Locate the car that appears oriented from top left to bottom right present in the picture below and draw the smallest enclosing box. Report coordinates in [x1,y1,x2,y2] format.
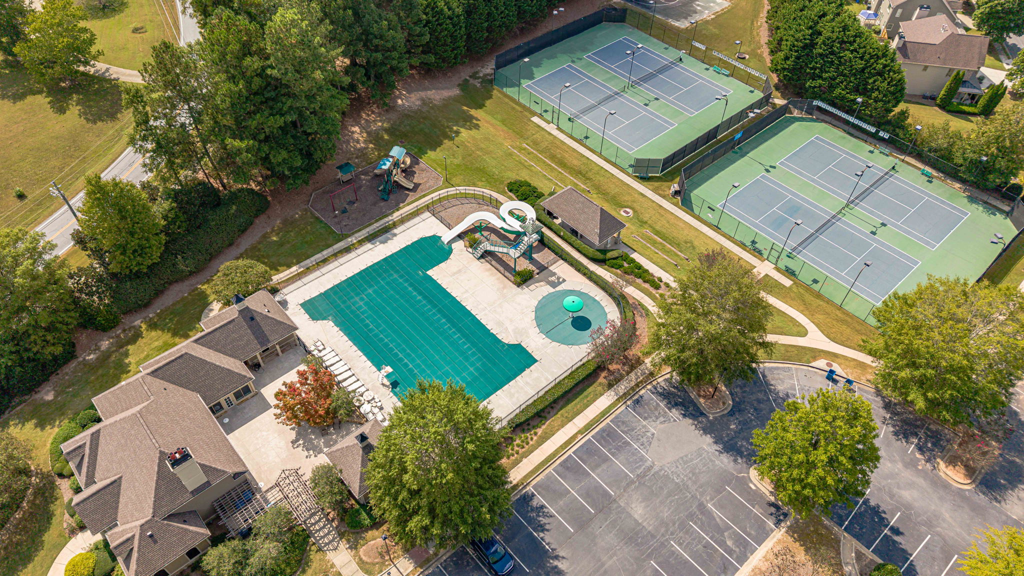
[469,525,516,576]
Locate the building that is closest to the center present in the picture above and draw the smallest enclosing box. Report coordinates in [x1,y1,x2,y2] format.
[541,186,628,257]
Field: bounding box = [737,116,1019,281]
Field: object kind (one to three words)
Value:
tennis court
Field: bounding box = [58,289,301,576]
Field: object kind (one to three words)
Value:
building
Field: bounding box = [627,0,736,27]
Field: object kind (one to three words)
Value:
basketball court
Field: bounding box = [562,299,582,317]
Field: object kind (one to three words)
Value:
fountain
